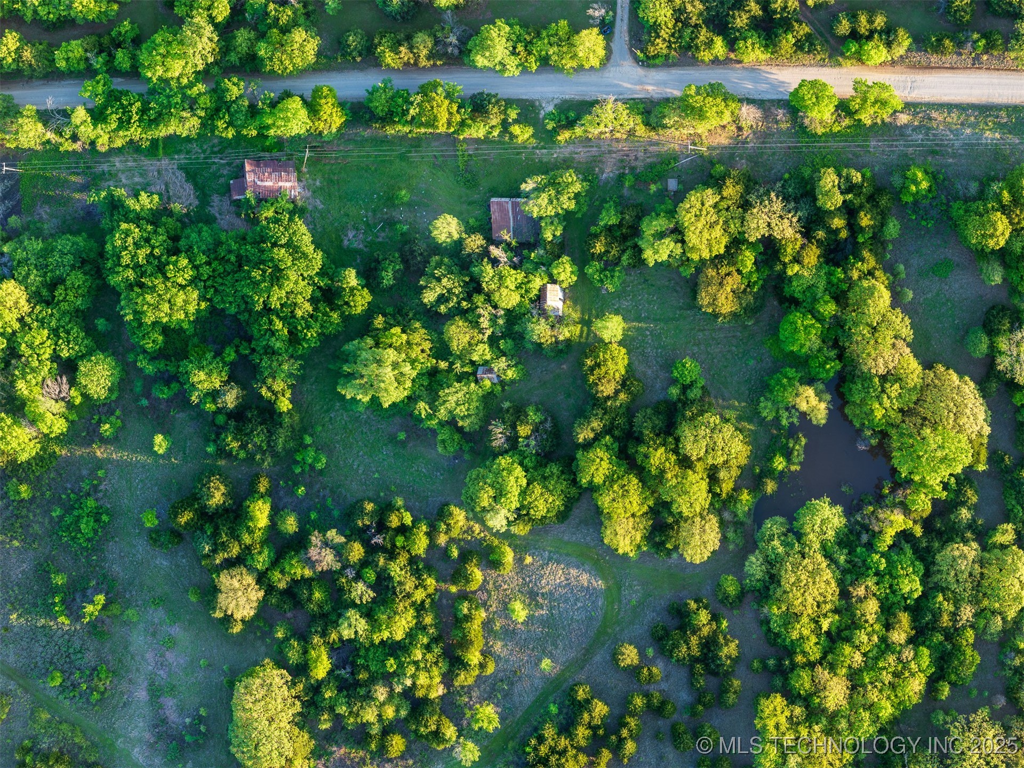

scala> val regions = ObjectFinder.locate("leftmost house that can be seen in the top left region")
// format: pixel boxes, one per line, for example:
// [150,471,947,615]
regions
[231,158,299,202]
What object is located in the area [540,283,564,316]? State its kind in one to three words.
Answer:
shed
